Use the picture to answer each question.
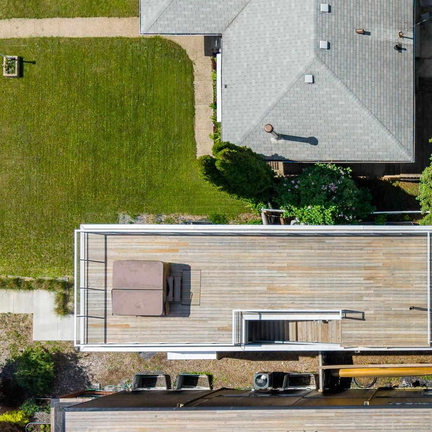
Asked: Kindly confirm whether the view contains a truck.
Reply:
No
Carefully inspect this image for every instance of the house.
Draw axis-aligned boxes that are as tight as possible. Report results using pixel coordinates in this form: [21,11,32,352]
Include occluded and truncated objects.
[63,390,432,432]
[80,224,432,359]
[137,0,418,165]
